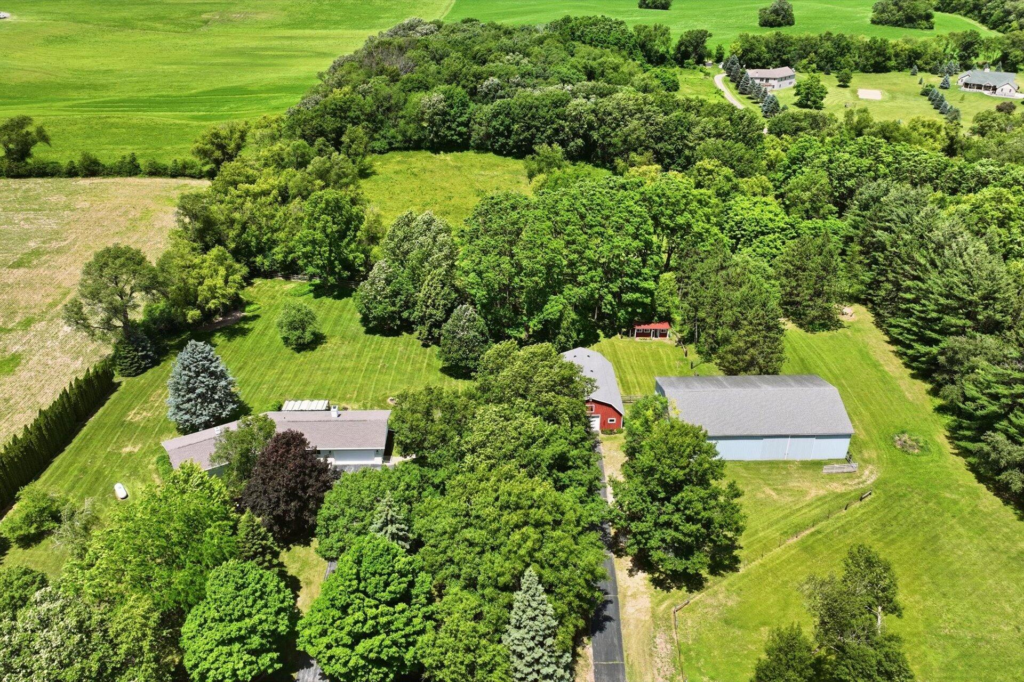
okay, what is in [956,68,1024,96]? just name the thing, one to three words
house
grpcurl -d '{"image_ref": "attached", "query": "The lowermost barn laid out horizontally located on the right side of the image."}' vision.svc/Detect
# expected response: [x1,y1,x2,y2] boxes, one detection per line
[652,374,859,460]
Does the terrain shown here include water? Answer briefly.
No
